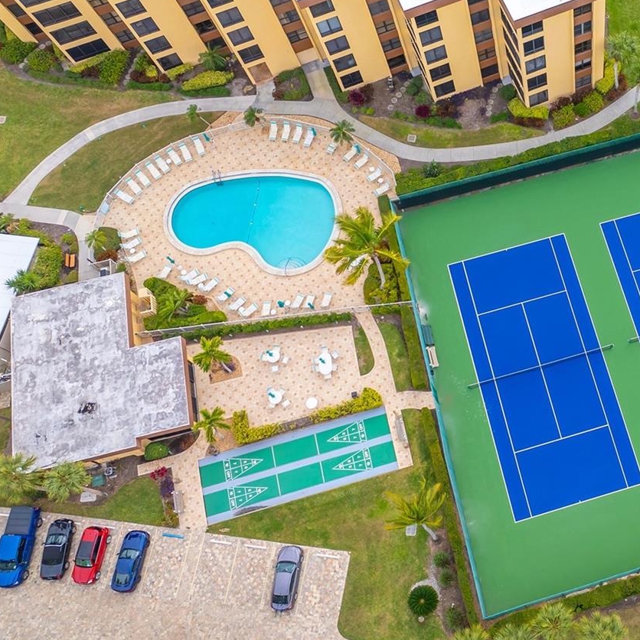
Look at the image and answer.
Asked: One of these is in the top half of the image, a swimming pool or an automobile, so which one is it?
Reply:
swimming pool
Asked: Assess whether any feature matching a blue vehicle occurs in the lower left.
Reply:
Yes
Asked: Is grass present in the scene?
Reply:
Yes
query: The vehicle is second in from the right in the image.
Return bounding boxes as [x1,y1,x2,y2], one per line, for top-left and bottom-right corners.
[109,529,154,595]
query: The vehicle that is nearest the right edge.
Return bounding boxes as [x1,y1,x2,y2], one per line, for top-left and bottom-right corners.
[269,545,304,612]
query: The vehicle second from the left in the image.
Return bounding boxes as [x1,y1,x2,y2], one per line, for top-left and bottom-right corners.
[38,519,78,581]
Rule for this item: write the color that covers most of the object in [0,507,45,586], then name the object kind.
blue vehicle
